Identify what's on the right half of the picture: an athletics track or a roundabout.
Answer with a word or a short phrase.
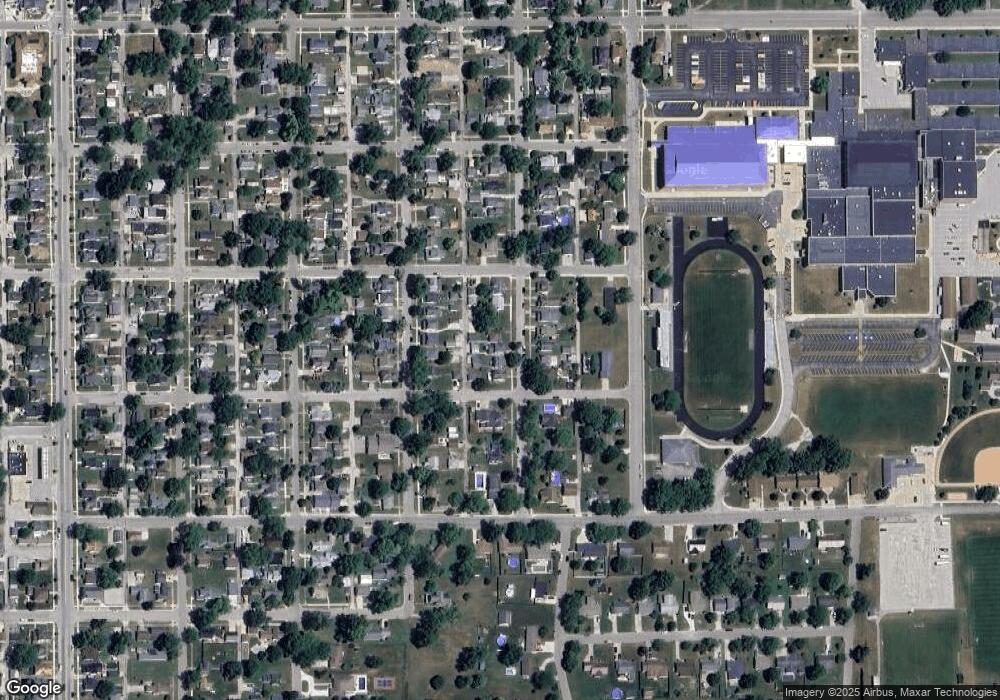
athletics track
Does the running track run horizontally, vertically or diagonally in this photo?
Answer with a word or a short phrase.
vertically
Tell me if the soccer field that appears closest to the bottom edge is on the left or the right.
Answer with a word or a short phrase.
right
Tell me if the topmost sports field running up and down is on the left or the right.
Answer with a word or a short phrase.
right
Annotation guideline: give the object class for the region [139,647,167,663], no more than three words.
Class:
house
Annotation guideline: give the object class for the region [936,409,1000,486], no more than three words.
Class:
baseball field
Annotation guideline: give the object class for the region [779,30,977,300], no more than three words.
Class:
building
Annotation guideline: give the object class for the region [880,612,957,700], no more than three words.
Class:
soccer field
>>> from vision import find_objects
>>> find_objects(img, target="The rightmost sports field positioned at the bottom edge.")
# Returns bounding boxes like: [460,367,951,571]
[962,528,1000,677]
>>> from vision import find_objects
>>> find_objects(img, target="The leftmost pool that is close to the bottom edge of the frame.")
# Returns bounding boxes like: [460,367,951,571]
[355,673,368,691]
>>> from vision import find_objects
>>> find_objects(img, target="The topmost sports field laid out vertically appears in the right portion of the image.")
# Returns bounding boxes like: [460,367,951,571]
[684,249,754,429]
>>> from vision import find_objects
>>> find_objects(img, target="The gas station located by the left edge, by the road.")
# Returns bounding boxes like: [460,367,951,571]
[8,434,26,476]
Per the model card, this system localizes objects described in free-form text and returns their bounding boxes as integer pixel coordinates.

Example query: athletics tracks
[673,217,765,439]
